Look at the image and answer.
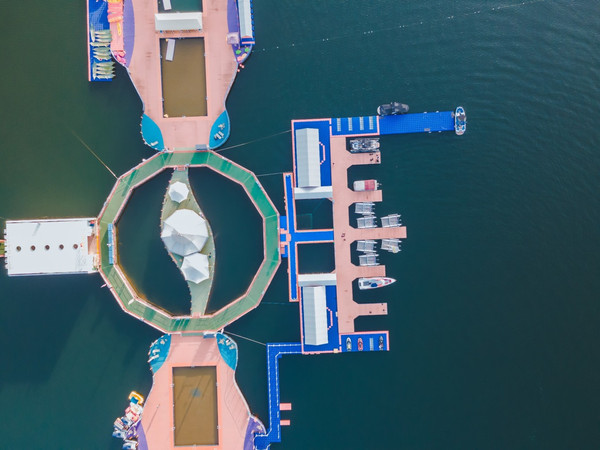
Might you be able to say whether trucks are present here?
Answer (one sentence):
No, no truck can be seen from above.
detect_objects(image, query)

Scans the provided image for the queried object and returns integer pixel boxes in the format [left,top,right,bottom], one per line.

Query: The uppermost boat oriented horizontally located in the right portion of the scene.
[375,101,409,115]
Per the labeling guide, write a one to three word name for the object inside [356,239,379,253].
boat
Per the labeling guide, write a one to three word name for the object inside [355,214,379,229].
boat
